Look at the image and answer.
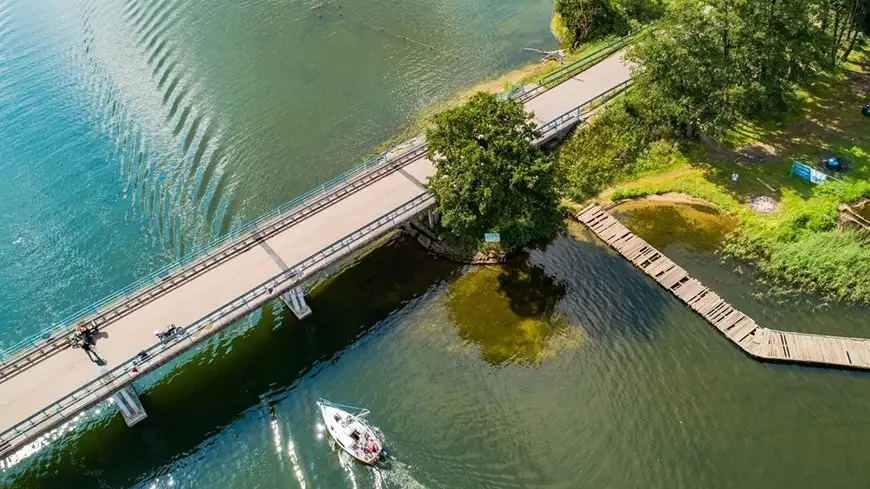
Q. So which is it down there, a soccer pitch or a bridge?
bridge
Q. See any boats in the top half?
No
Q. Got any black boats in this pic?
No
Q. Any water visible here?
Yes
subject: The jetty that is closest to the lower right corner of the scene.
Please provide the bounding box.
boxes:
[577,202,870,373]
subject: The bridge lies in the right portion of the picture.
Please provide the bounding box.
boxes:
[492,82,582,150]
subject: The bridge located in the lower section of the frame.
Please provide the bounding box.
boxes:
[0,150,447,477]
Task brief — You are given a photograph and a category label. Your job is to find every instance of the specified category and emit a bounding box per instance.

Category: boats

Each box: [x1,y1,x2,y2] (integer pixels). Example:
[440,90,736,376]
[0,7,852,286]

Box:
[317,398,387,472]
